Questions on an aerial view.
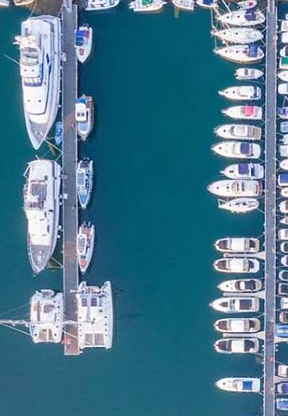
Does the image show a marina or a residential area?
marina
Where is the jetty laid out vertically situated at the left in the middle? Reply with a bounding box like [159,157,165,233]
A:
[62,4,80,356]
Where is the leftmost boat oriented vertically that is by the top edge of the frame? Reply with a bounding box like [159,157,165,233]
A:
[18,0,63,152]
